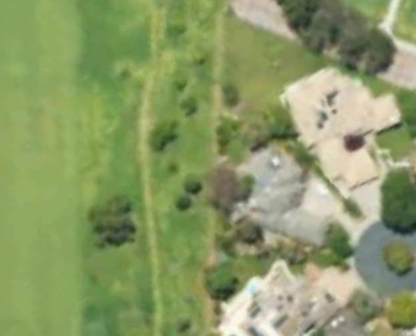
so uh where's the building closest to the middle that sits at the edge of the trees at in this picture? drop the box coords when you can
[239,149,332,245]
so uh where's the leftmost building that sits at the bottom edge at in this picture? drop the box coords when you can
[245,263,345,336]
